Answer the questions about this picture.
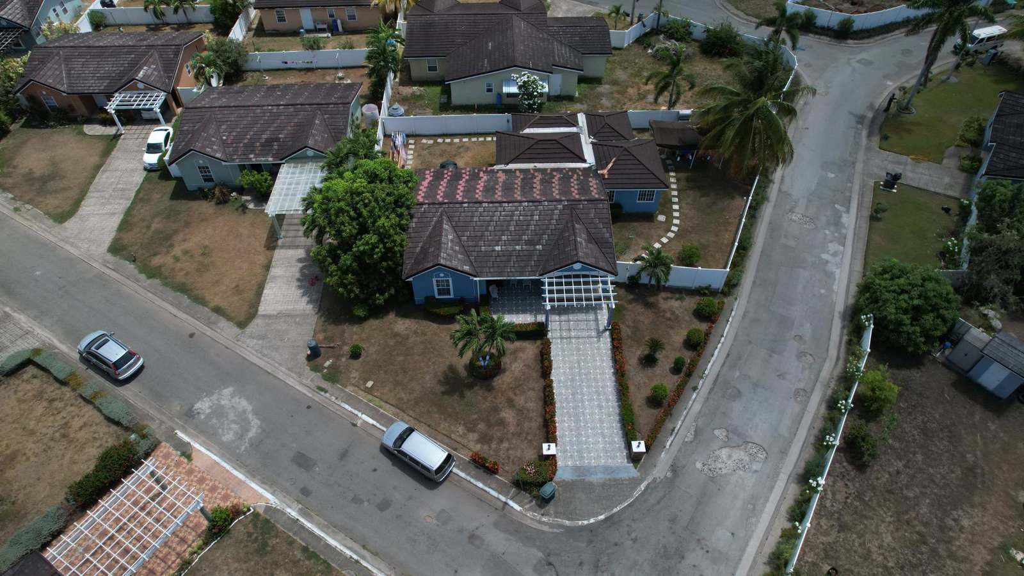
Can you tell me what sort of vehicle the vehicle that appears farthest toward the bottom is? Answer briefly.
car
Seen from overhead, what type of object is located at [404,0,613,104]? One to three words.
house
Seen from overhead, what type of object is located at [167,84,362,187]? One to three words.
house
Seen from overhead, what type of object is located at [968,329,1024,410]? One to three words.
shed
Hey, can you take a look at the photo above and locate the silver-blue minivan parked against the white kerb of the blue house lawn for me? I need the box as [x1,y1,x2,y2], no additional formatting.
[383,424,464,485]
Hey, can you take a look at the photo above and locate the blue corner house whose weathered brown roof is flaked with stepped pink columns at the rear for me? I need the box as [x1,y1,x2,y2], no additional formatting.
[402,111,669,304]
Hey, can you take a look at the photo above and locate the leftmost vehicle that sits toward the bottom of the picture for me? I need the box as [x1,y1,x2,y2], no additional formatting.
[75,334,142,381]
